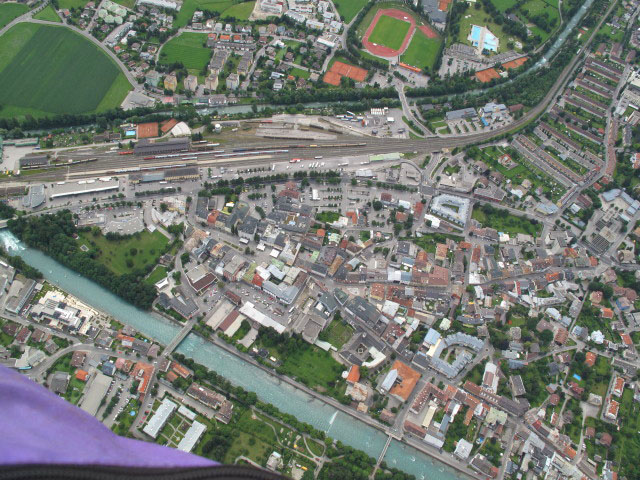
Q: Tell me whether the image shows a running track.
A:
Yes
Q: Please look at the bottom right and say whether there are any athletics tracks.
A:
No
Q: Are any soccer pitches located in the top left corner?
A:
No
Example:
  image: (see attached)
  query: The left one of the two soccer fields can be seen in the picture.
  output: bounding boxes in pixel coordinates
[368,15,409,50]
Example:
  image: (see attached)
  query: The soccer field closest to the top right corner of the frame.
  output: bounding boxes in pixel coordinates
[408,30,440,64]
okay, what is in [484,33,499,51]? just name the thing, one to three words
swimming pool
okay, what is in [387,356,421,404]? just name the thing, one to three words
building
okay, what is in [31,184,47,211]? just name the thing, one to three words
building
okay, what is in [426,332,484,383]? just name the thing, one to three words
house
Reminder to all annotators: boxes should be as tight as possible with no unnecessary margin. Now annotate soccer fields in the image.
[368,15,409,50]
[408,30,440,64]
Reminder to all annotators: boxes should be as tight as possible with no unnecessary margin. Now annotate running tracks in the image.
[362,8,414,58]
